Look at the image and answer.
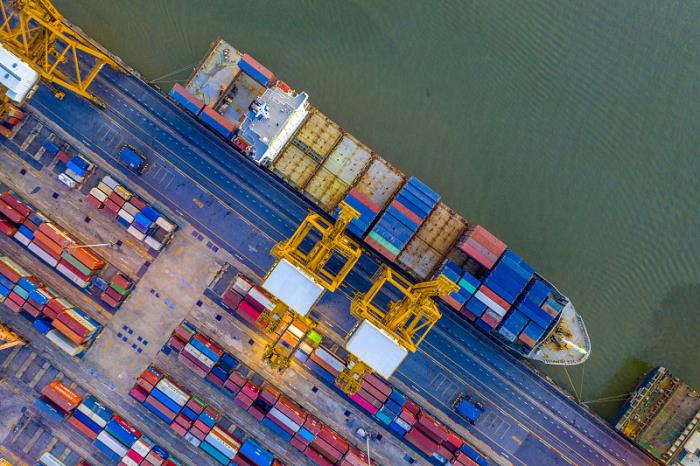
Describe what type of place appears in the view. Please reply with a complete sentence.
The area seen from above is a port.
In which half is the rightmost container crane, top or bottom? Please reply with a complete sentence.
You can find the rightmost container crane in the bottom half.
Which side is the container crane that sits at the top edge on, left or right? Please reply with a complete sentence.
The container crane that sits at the top edge sits on the left side.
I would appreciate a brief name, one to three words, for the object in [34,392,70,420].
shipping container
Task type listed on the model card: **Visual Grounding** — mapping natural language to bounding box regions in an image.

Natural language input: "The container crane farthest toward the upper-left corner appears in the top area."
[0,0,135,113]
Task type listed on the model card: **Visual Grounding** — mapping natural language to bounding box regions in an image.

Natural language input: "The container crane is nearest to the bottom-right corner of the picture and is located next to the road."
[320,258,464,400]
